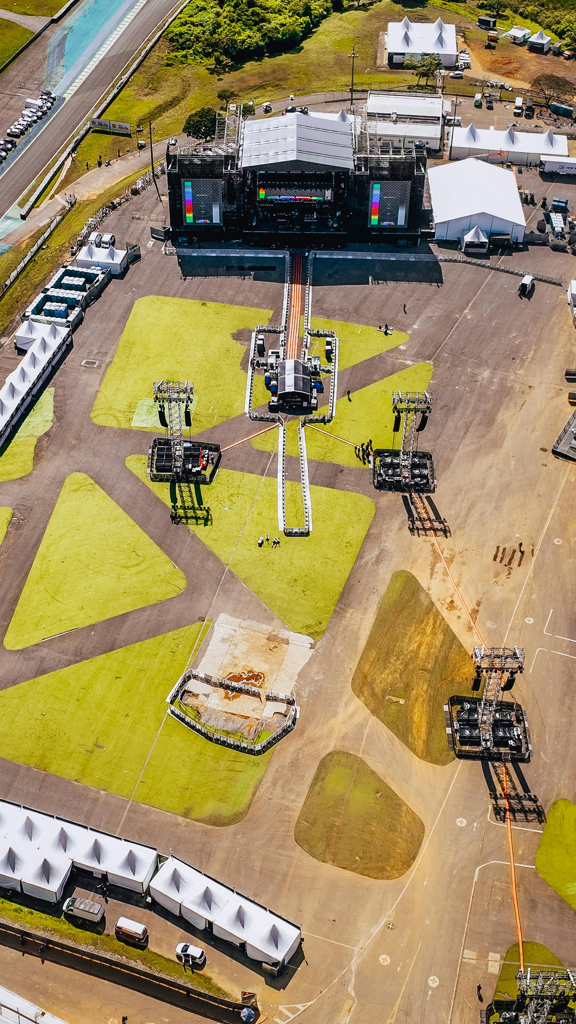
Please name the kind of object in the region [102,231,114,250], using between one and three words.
vehicle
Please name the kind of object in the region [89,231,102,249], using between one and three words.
vehicle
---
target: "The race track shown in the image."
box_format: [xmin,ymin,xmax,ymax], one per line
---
[0,0,166,218]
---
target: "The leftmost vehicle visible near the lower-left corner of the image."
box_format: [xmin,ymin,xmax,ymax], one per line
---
[65,898,109,924]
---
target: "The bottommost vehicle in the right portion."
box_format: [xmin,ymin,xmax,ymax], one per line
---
[519,274,536,294]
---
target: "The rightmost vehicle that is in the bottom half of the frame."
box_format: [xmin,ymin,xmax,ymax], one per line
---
[173,945,209,970]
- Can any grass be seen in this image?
Yes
